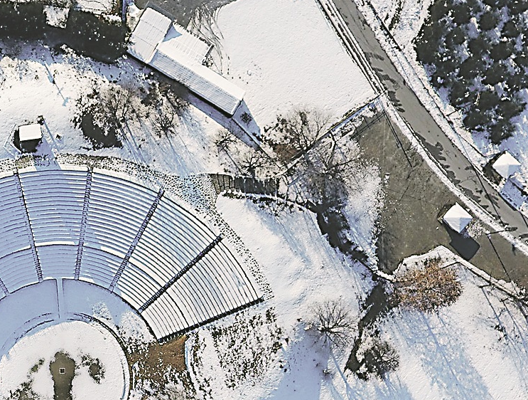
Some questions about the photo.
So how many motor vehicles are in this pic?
none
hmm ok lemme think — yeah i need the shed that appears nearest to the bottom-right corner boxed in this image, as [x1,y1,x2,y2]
[440,203,472,232]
